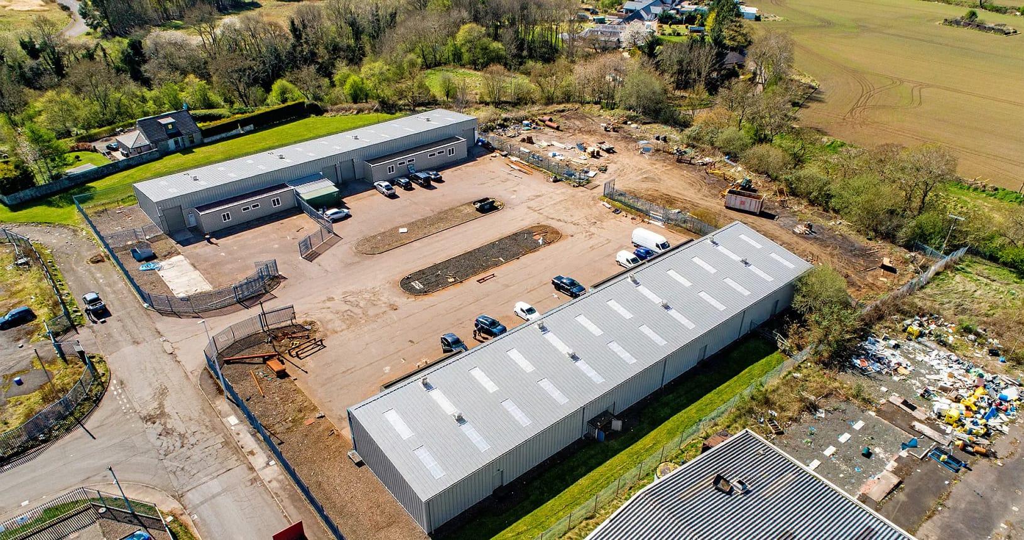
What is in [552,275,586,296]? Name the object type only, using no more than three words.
truck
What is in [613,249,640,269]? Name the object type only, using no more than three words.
vehicle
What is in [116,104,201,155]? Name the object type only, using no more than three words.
house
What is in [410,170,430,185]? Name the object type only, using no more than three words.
car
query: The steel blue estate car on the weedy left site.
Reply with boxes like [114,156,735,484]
[0,305,35,328]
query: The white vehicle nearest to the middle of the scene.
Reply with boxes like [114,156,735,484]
[512,303,540,320]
